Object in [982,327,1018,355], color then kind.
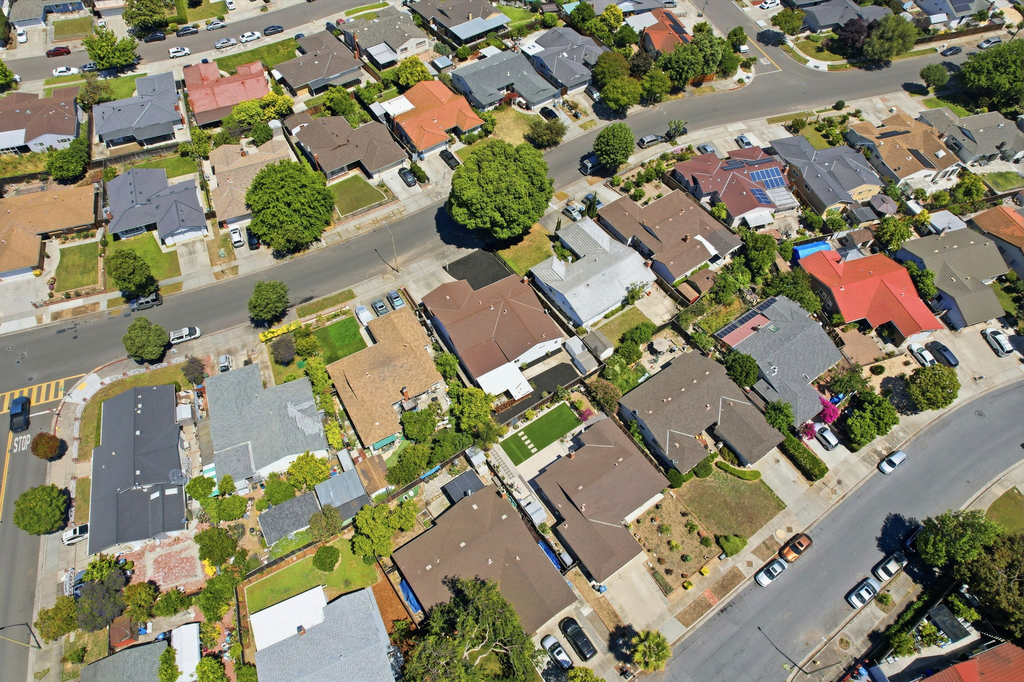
white car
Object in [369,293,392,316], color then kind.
gray car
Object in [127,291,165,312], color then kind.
gray car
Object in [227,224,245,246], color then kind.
white car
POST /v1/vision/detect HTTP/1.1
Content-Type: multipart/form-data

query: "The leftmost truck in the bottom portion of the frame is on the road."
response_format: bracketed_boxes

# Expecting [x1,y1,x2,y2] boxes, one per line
[7,394,30,432]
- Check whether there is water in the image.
No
